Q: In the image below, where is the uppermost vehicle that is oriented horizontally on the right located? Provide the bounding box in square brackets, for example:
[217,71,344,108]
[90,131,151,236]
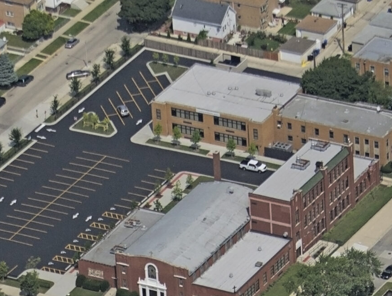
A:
[239,159,267,173]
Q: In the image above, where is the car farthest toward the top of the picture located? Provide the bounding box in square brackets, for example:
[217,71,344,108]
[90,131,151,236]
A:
[63,36,80,50]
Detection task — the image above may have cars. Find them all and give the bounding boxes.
[63,36,80,50]
[67,70,89,80]
[115,104,130,117]
[18,75,35,88]
[0,96,6,106]
[380,265,392,280]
